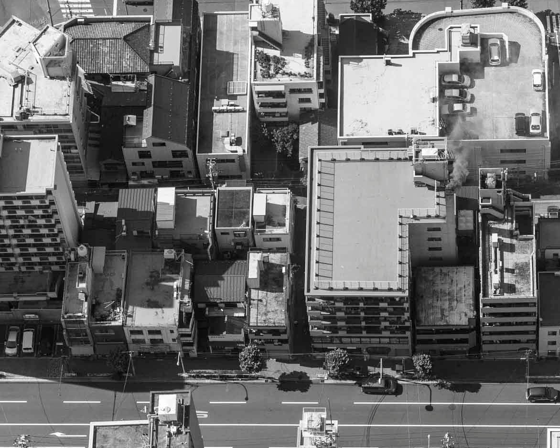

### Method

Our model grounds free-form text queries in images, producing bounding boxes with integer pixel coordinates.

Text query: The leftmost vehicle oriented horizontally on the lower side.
[364,377,400,396]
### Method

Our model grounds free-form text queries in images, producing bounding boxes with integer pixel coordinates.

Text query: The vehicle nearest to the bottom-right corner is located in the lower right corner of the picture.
[526,386,559,402]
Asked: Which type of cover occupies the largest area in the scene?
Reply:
buildings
